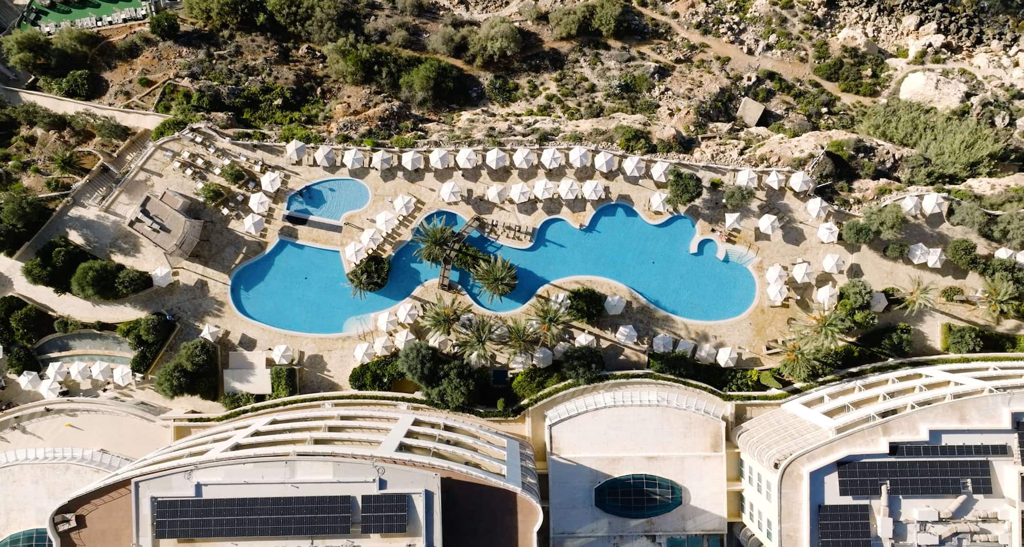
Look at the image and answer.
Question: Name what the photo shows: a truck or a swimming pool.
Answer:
swimming pool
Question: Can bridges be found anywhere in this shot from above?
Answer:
Yes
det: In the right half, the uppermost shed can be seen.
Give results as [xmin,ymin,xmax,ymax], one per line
[734,96,766,128]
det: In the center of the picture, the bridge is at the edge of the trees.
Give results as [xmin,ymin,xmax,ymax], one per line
[438,217,484,293]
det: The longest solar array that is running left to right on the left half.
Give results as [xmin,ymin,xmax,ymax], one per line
[156,493,351,538]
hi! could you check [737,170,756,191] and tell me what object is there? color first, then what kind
white umbrella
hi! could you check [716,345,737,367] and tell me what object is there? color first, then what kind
white umbrella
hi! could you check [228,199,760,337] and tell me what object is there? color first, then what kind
blue swimming pool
